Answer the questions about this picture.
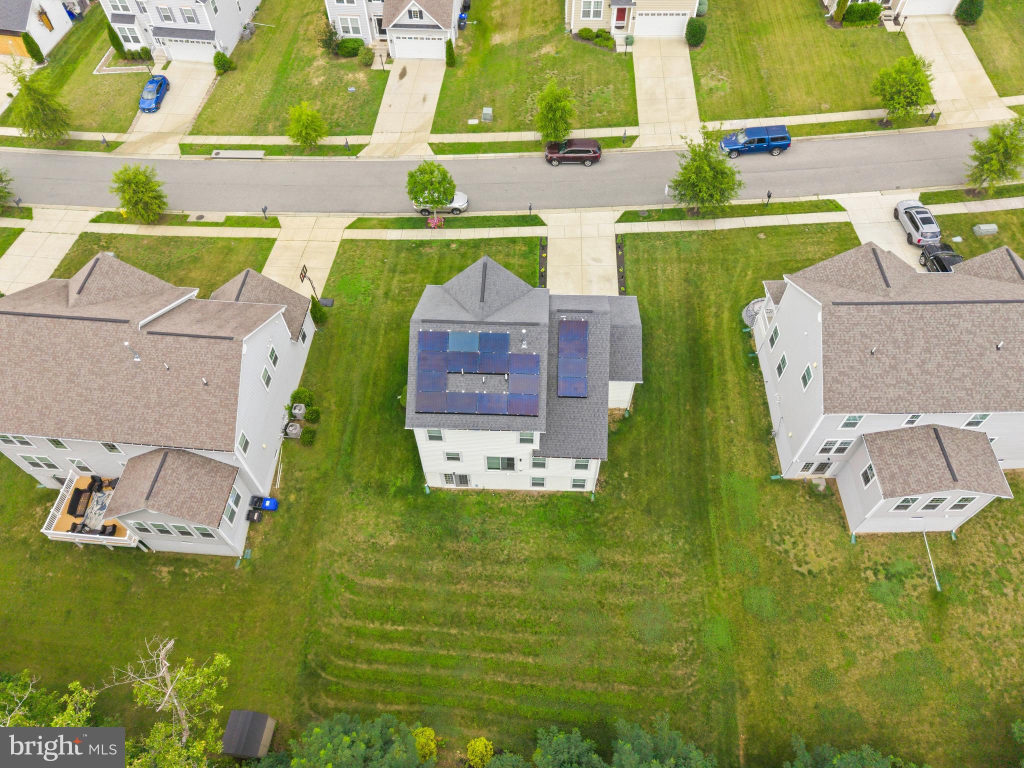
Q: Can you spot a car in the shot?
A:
Yes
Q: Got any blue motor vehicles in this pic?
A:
Yes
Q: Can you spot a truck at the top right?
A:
Yes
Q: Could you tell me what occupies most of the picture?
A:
grass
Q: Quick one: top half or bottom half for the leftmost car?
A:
top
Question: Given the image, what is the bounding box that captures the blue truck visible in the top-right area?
[717,126,791,161]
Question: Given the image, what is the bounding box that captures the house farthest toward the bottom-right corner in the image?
[747,239,1024,535]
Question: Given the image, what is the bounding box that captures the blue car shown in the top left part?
[137,76,172,112]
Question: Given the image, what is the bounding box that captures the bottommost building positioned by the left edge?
[0,252,316,560]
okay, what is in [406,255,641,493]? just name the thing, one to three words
house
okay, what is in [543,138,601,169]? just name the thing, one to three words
car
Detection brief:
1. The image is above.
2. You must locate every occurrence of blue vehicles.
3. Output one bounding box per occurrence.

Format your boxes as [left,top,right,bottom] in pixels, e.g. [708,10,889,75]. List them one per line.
[717,126,791,161]
[137,76,172,112]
